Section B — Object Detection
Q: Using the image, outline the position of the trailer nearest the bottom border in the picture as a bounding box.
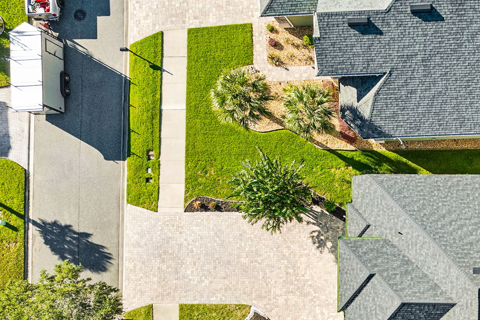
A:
[2,21,72,121]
